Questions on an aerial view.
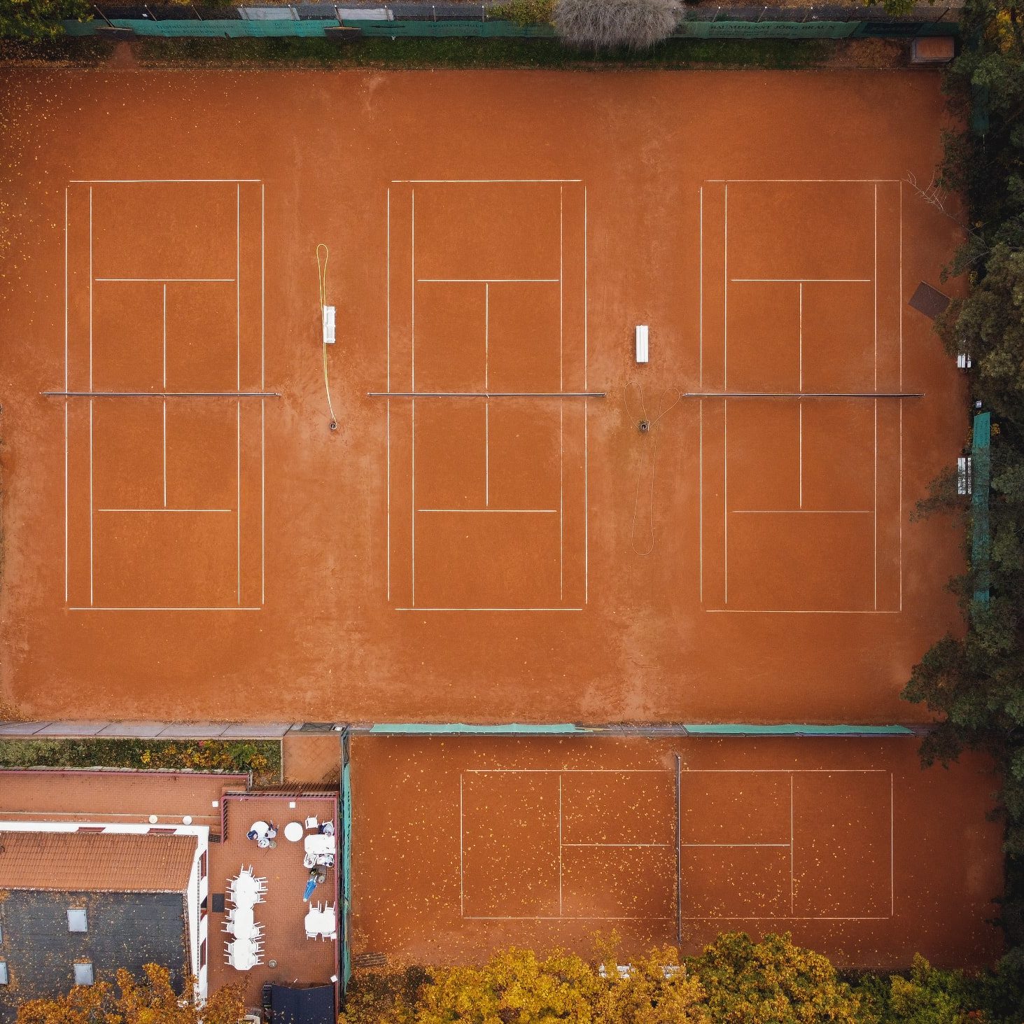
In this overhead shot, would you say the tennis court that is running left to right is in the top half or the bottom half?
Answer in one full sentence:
The tennis court that is running left to right is in the bottom half of the image.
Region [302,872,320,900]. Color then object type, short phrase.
blue umbrella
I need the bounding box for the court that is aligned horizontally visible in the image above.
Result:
[350,724,1003,970]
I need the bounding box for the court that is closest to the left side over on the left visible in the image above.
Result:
[0,69,329,724]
